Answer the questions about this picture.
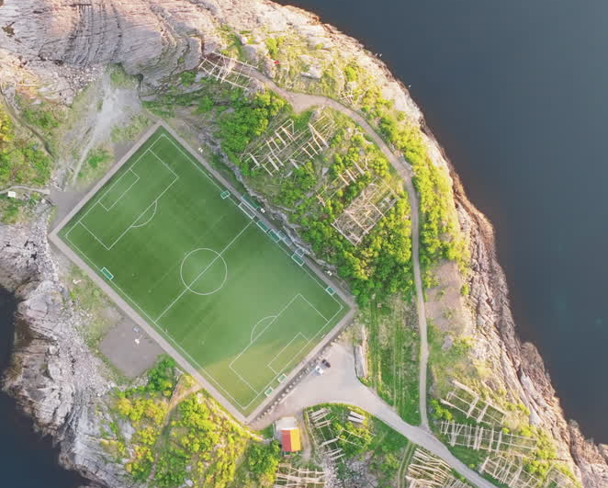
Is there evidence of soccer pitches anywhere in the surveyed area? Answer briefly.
Yes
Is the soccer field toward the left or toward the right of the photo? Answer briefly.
left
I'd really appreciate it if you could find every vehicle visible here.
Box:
[322,358,332,369]
[314,365,324,374]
